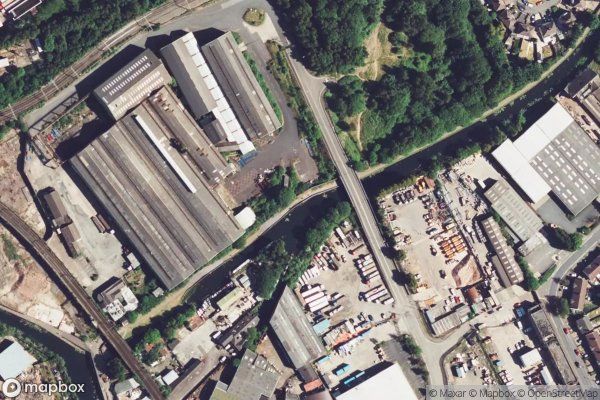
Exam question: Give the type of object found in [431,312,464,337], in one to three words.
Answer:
shed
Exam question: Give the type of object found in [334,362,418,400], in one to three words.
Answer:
building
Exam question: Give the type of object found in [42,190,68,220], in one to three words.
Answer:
building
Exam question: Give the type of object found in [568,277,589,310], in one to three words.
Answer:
house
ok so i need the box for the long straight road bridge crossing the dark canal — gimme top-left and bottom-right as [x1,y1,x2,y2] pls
[316,117,395,278]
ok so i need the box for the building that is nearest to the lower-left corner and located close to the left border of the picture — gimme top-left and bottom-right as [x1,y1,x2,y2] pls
[0,341,36,382]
